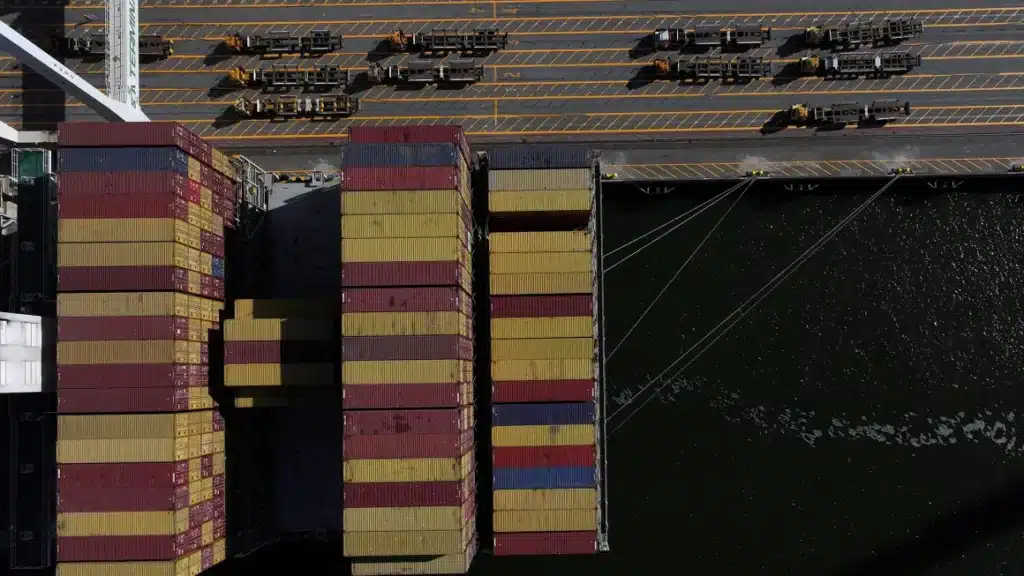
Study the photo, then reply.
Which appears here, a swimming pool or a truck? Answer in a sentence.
Visible in the photo is a truck.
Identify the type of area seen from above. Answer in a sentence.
This looks like a port.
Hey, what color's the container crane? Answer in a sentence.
The color of the container crane is white.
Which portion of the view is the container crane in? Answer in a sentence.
The container crane appears toward the top left of the photo.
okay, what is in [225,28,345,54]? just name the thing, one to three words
truck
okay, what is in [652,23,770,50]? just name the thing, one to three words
truck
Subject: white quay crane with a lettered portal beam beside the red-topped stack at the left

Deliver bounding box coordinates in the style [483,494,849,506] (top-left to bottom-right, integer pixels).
[0,0,152,148]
